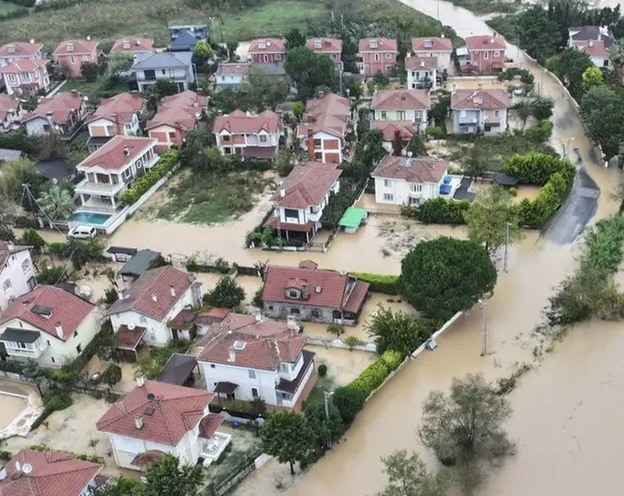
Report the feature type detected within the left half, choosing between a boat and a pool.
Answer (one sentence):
Visible within the left half is a pool.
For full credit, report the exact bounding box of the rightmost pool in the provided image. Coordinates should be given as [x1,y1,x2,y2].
[62,200,130,240]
